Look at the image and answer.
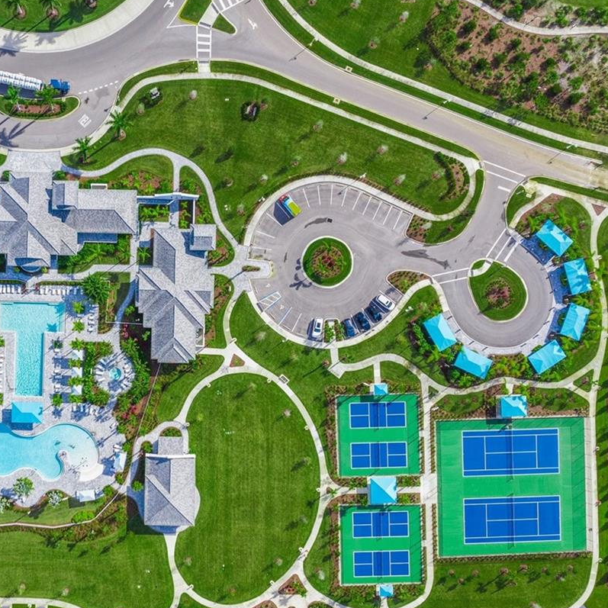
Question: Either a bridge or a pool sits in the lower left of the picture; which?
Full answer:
There is a pool in the lower left of the picture.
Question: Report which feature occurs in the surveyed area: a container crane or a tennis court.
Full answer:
This aerial view contains a tennis court.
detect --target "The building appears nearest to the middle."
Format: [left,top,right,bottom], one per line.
[138,224,216,362]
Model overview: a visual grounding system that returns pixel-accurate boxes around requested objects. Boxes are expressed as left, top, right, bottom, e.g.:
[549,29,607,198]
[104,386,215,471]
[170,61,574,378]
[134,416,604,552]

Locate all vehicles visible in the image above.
[341,318,355,341]
[277,193,302,219]
[353,314,370,333]
[0,79,69,97]
[312,317,322,337]
[376,294,395,311]
[365,305,381,324]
